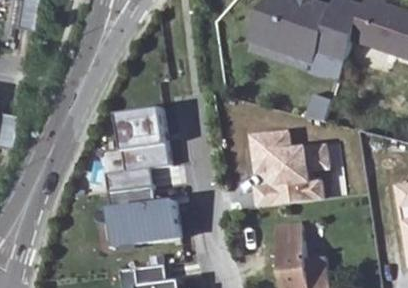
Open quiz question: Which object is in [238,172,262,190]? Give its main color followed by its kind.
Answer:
white car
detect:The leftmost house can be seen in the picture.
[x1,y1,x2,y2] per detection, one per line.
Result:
[0,114,18,148]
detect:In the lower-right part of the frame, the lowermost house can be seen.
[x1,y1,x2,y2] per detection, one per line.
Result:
[310,267,333,288]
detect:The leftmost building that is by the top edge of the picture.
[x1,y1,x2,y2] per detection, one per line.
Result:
[12,0,40,30]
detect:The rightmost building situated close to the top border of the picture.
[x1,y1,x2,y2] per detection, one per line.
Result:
[247,0,408,79]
